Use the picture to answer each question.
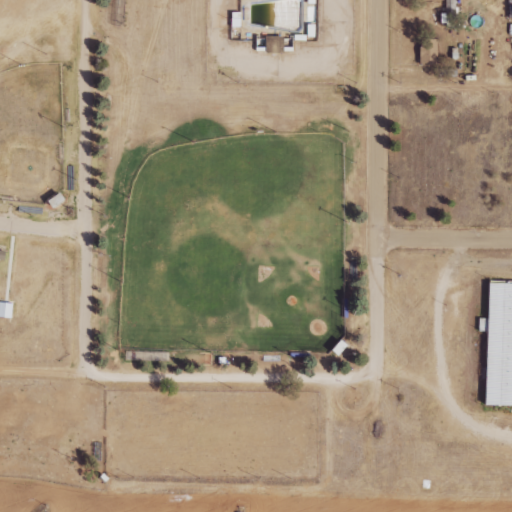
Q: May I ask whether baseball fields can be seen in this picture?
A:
Yes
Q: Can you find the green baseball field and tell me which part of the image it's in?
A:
center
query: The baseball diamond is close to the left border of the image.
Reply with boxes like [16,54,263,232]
[0,64,61,202]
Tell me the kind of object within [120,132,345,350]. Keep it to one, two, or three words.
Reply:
baseball field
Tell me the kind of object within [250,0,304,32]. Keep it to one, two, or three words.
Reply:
swimming pool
